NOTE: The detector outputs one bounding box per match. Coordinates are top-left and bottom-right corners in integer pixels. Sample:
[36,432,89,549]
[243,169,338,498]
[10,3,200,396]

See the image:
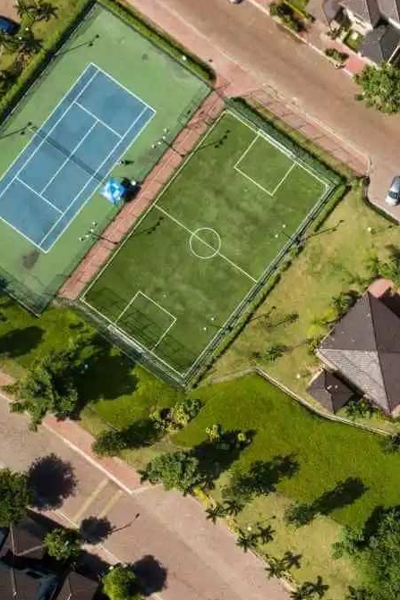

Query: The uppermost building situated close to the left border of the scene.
[0,522,47,565]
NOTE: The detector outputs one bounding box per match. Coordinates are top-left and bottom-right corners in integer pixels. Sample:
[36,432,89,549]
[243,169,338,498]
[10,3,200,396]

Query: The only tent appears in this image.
[101,179,134,209]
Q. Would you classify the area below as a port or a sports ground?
sports ground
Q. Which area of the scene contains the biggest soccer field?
center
